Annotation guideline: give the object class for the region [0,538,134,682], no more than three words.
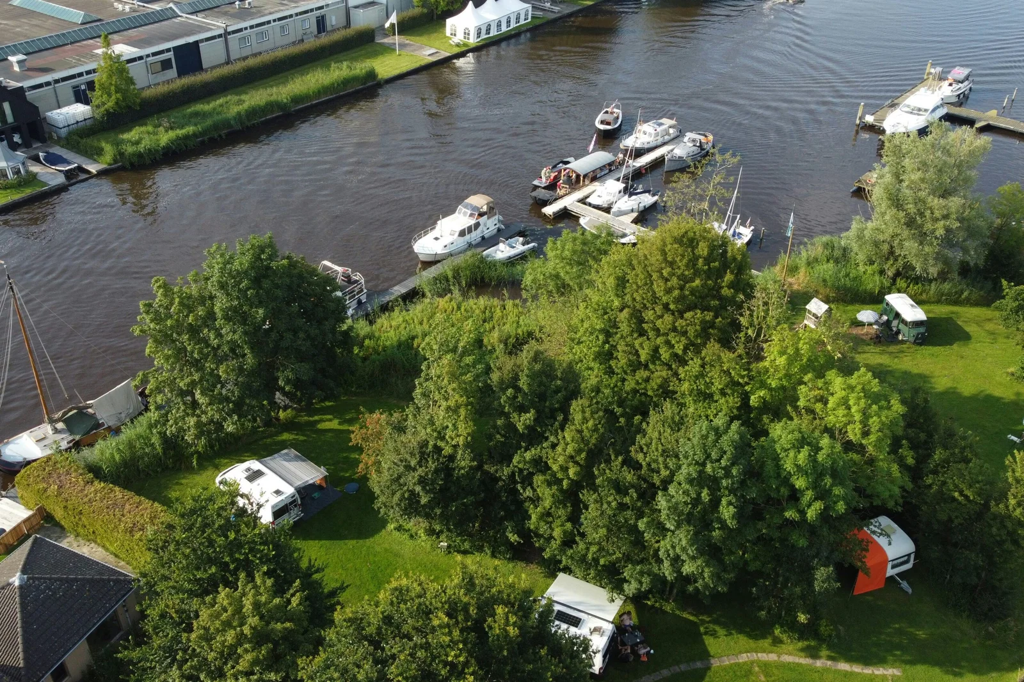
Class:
house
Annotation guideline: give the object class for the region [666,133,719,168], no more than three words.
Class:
boat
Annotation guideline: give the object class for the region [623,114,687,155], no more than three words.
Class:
boat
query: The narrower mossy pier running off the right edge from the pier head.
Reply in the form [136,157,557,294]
[948,107,1024,136]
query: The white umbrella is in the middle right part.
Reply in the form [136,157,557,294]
[860,306,886,333]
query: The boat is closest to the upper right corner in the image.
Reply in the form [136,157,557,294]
[943,65,980,100]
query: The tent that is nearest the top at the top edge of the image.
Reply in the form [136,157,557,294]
[450,0,532,42]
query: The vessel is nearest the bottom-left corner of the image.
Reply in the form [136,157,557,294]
[0,285,153,478]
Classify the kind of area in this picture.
port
